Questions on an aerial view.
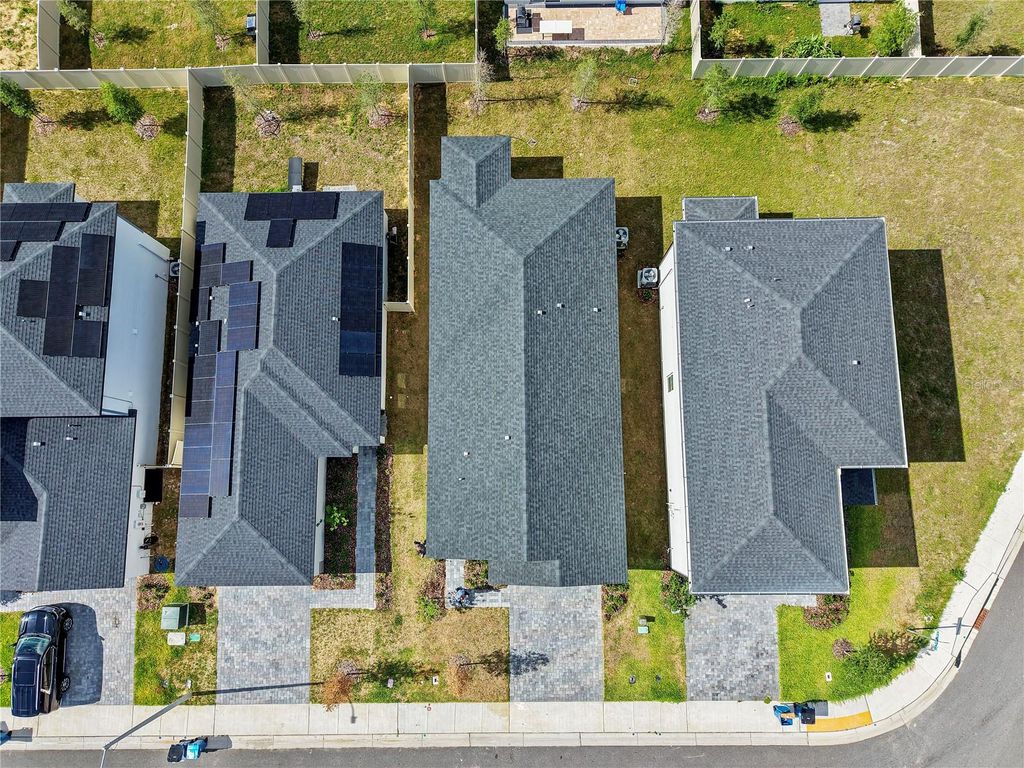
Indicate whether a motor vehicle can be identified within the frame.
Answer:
Yes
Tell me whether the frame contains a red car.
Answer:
No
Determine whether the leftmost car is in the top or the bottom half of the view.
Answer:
bottom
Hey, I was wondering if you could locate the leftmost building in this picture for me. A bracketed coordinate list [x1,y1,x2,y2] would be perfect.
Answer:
[0,182,168,595]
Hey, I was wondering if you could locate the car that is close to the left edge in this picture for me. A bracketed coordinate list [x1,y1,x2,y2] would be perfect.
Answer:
[9,606,74,722]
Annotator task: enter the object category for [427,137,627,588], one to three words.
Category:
house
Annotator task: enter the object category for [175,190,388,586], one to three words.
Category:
house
